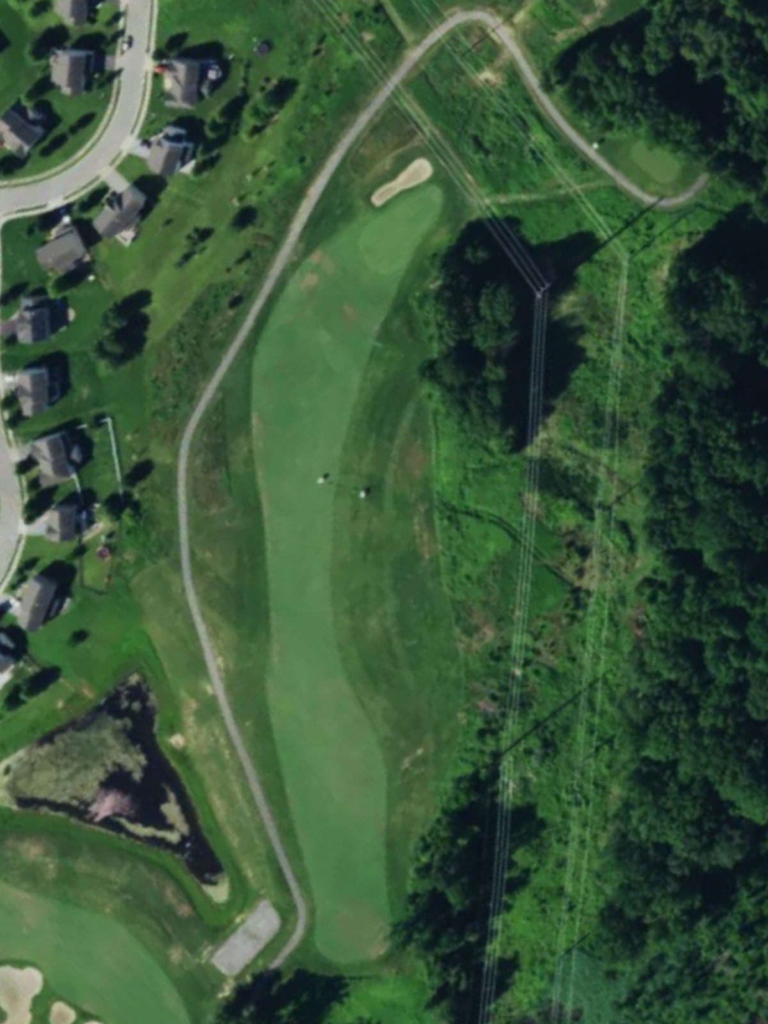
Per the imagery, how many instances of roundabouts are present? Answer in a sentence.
I count no roundabouts.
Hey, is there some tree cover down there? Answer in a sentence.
Yes, there is tree cover in the image.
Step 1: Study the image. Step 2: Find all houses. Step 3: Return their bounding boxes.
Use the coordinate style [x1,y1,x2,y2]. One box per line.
[35,218,92,278]
[0,105,41,158]
[27,433,78,486]
[50,49,92,94]
[47,0,90,26]
[145,123,191,178]
[14,369,59,418]
[12,576,64,632]
[160,59,211,108]
[0,637,20,678]
[43,504,86,543]
[18,295,52,346]
[90,177,151,244]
